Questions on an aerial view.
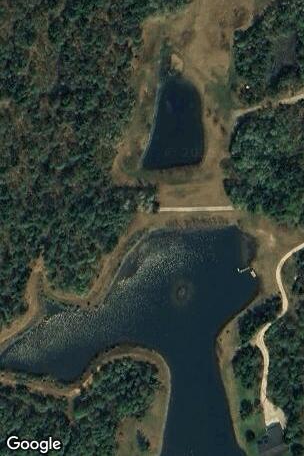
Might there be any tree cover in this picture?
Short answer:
Yes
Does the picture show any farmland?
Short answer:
No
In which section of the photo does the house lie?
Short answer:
bottom right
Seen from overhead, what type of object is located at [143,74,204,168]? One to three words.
pond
